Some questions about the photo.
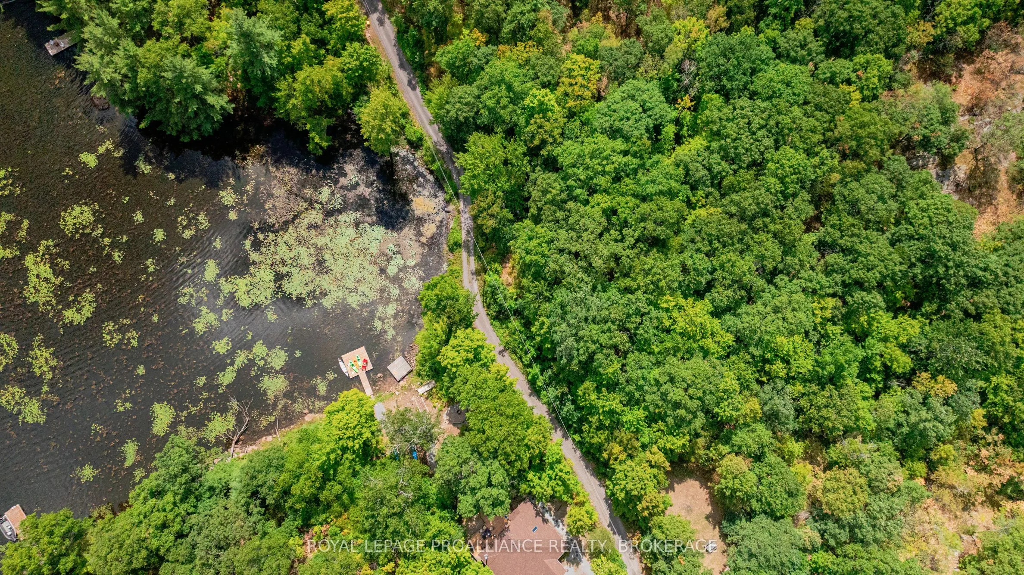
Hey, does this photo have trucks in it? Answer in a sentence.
No, the photo shows no truck.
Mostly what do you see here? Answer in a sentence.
What you mostly see from above here is trees.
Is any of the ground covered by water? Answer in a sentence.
Yes, the picture does contain water.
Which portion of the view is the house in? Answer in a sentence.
The house appears toward the bottom of the photo.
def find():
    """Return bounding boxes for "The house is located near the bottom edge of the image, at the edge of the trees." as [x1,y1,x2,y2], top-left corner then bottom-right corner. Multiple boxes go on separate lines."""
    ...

[485,496,575,575]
